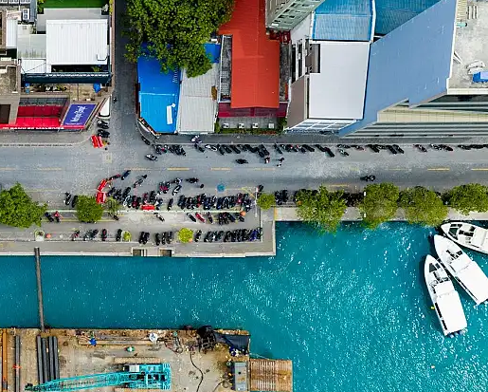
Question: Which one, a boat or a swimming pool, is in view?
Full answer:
This aerial view contains a boat.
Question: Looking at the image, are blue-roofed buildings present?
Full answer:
Yes, I can see a blue-roofed building in this picture.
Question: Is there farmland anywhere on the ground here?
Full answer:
No, there's no farmland in this view.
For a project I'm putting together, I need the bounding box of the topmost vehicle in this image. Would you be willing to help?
[100,92,112,119]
